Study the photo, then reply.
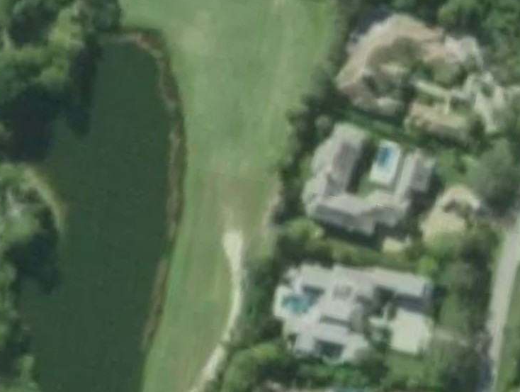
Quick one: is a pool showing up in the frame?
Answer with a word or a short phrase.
Yes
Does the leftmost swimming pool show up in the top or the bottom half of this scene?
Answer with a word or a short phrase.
bottom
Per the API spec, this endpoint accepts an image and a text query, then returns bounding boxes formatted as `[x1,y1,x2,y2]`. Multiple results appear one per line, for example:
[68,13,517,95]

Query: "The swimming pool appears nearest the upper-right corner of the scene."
[371,140,401,185]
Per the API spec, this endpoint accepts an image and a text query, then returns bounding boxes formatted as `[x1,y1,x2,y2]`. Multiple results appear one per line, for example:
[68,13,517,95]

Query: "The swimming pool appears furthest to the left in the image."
[273,281,323,328]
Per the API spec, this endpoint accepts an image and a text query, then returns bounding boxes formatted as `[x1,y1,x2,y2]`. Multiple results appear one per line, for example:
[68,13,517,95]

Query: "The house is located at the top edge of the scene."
[329,8,464,114]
